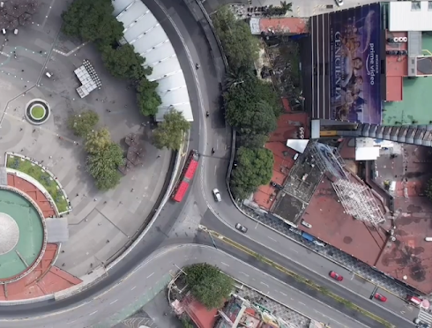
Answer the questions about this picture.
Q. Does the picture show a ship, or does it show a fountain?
fountain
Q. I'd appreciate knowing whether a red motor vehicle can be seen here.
Yes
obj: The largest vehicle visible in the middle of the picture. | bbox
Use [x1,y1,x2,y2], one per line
[169,150,199,202]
